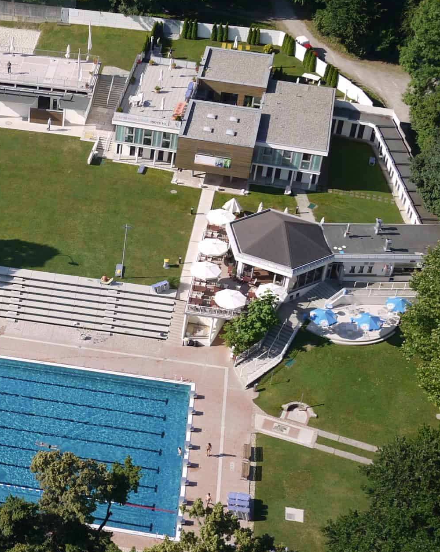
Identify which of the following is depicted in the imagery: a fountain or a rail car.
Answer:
fountain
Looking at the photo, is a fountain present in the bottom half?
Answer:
Yes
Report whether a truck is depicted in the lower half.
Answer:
No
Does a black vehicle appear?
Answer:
No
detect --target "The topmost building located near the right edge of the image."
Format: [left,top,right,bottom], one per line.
[330,91,440,223]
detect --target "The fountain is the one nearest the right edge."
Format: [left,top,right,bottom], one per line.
[279,390,317,428]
